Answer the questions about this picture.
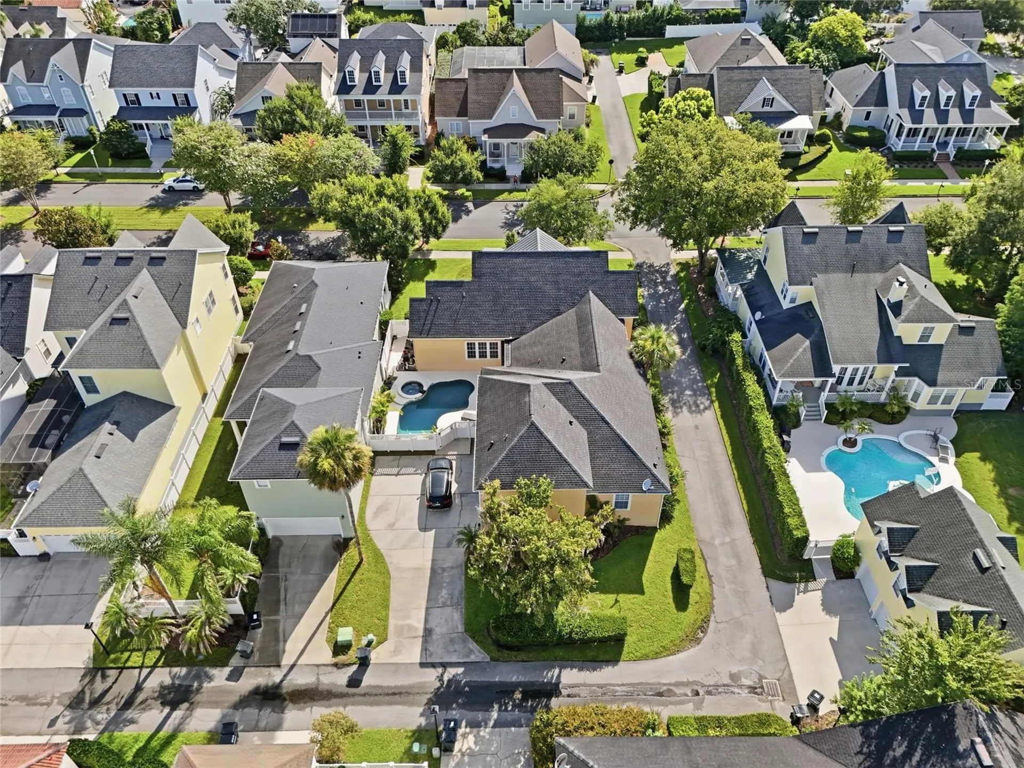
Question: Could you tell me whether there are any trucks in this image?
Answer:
No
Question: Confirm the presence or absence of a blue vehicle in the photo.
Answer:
No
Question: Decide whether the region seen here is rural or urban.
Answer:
urban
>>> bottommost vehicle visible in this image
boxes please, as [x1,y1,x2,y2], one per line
[424,455,457,509]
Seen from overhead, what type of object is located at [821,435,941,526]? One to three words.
swimming pool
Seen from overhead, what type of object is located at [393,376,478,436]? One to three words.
swimming pool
